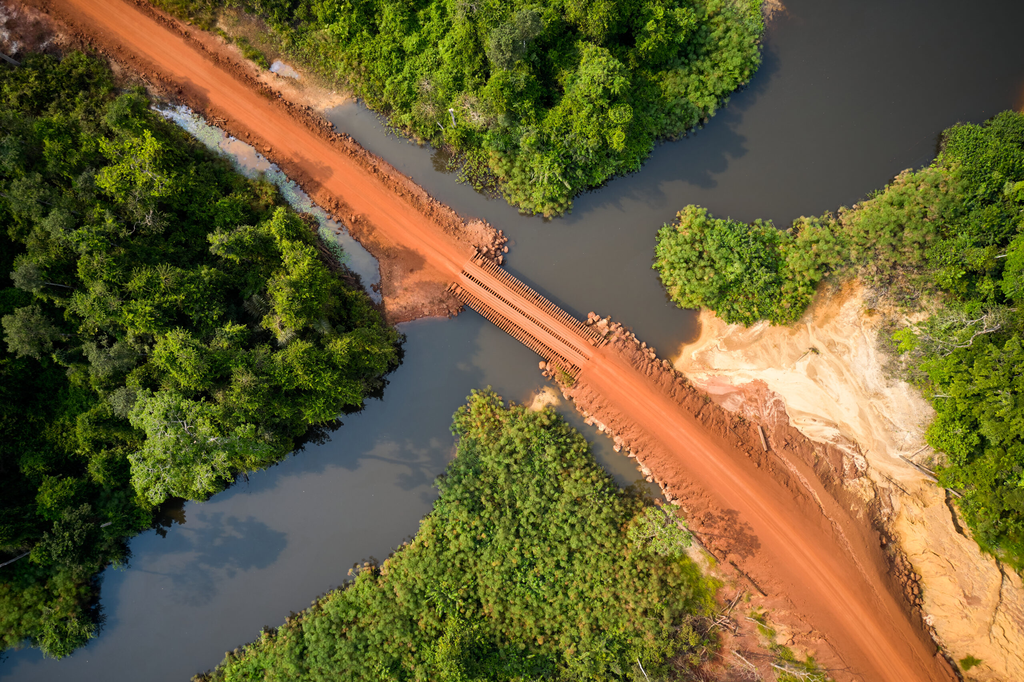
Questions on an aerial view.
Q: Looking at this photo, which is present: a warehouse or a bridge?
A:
bridge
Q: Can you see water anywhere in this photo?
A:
Yes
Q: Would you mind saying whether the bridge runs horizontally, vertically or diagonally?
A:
diagonally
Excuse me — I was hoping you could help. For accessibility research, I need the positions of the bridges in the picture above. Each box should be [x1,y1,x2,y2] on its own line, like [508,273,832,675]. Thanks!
[443,245,611,387]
